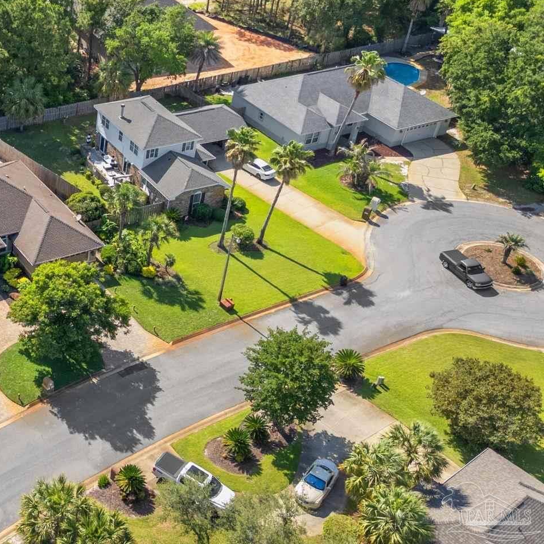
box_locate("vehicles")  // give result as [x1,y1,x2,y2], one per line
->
[295,452,339,509]
[435,247,498,289]
[149,448,239,508]
[244,156,280,180]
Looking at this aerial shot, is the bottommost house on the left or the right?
right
